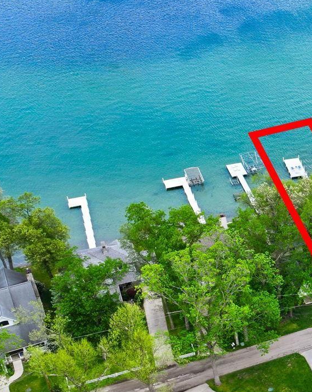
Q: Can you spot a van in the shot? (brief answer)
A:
No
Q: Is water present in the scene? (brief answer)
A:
Yes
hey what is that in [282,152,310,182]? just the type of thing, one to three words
pier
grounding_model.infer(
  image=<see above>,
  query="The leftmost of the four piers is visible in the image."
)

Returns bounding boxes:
[65,190,94,241]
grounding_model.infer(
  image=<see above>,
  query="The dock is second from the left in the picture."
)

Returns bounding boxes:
[162,174,206,224]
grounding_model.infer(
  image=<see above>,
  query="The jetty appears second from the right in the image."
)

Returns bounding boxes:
[226,163,257,206]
